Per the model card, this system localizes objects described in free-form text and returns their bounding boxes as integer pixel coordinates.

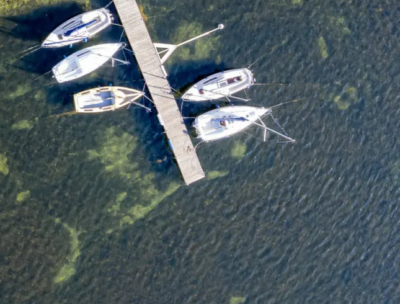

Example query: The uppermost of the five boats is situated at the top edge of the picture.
[19,2,117,56]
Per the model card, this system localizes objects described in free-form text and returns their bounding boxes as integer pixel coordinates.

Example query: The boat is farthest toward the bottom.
[185,99,300,143]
